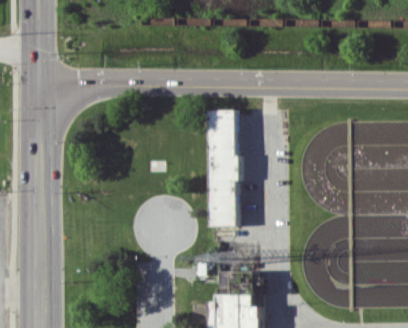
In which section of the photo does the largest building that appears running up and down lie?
center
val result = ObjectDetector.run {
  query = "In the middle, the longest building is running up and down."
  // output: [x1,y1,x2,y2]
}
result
[208,109,244,227]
